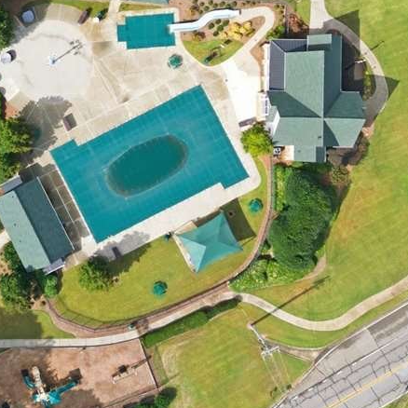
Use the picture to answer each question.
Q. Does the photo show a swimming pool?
Yes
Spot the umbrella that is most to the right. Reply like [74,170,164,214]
[248,197,262,212]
